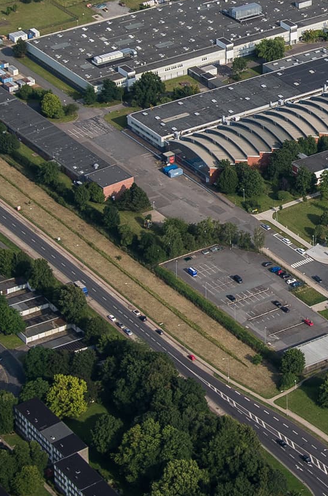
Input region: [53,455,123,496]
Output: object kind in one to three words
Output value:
building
